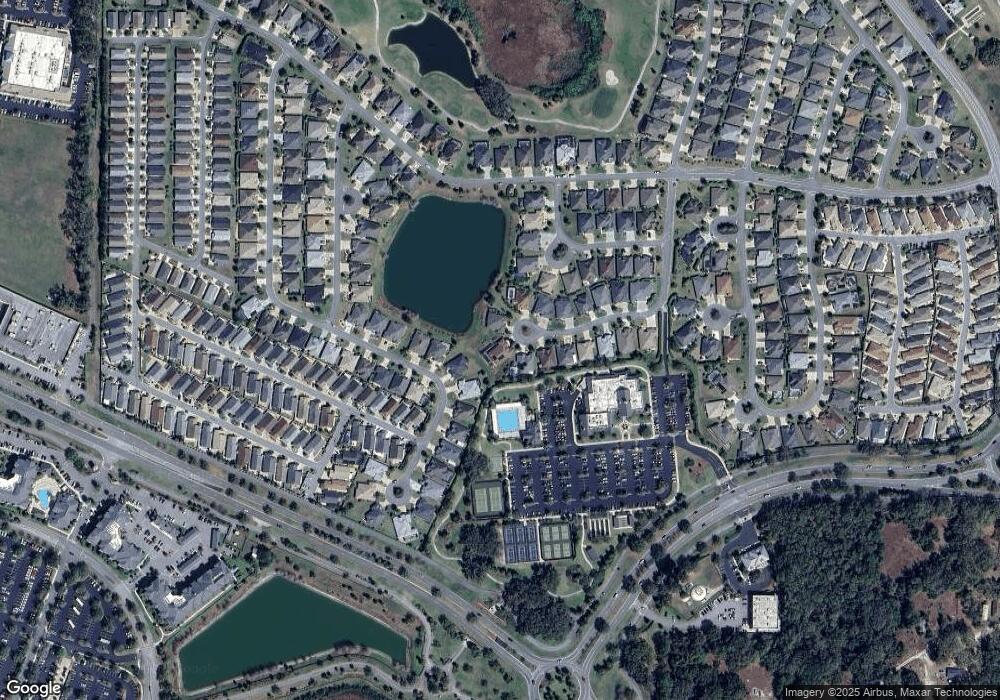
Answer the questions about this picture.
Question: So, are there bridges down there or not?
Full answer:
No, there is no bridge in the image.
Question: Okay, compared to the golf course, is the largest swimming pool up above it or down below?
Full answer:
In the image, the largest swimming pool sits below the golf course.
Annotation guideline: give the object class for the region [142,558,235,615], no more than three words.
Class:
building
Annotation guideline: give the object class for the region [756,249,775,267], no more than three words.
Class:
house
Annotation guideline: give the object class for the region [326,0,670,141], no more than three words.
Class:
golf course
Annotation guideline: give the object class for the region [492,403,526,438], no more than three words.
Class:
swimming pool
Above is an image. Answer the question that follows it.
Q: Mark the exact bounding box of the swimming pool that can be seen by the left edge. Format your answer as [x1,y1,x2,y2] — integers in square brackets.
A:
[28,475,60,515]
